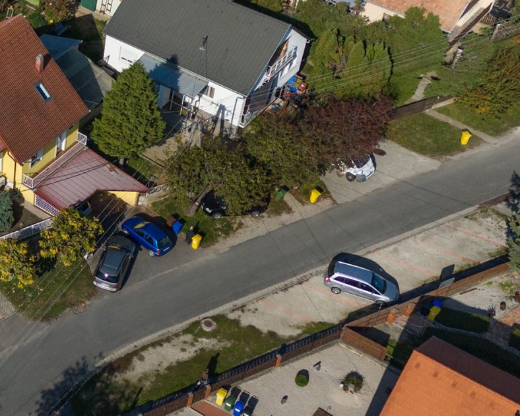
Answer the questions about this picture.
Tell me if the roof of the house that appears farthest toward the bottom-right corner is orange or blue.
orange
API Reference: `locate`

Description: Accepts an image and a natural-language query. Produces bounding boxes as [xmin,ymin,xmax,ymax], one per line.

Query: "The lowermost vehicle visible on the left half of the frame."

[89,236,135,294]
